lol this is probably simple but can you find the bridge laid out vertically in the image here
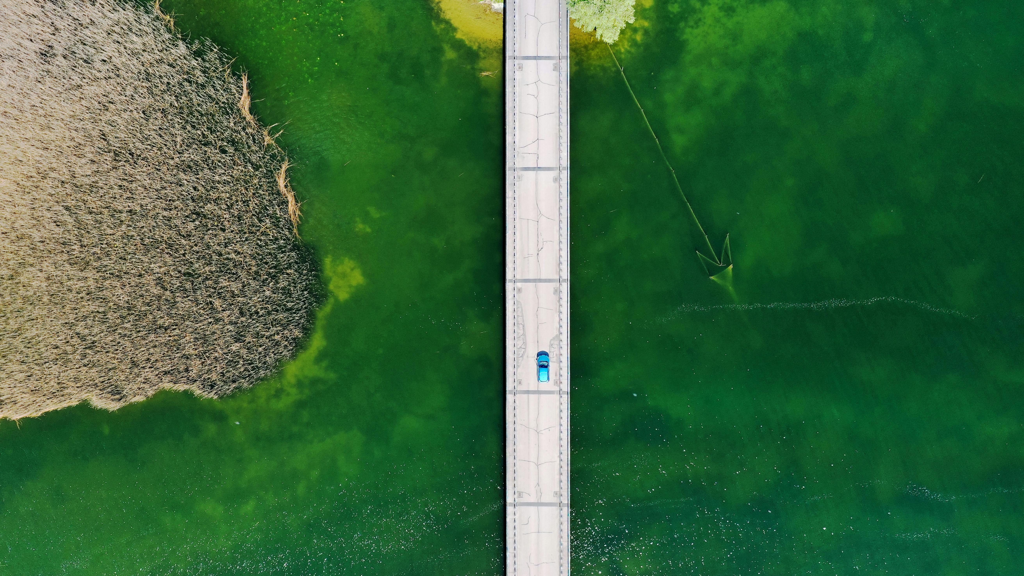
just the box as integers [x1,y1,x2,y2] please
[507,0,570,576]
